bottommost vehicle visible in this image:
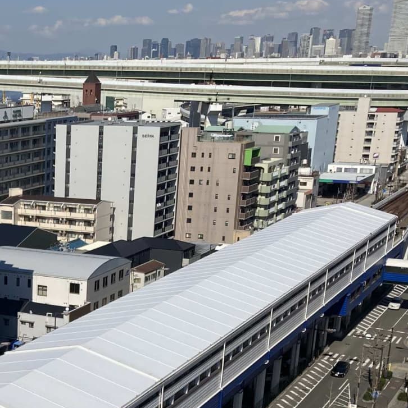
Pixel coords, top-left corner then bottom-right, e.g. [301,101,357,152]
[327,359,347,374]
